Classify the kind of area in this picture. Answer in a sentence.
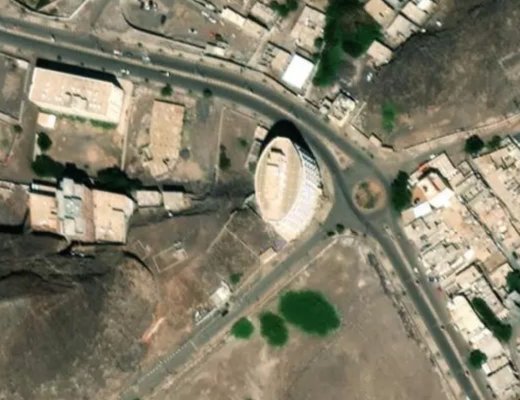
What you see here is a residential area.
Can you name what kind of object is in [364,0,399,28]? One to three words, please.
house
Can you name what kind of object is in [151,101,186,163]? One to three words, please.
building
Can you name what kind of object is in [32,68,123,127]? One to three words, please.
building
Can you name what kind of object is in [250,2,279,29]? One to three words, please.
house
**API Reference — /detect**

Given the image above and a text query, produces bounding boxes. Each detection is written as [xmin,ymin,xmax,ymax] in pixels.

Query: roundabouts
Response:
[354,179,387,212]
